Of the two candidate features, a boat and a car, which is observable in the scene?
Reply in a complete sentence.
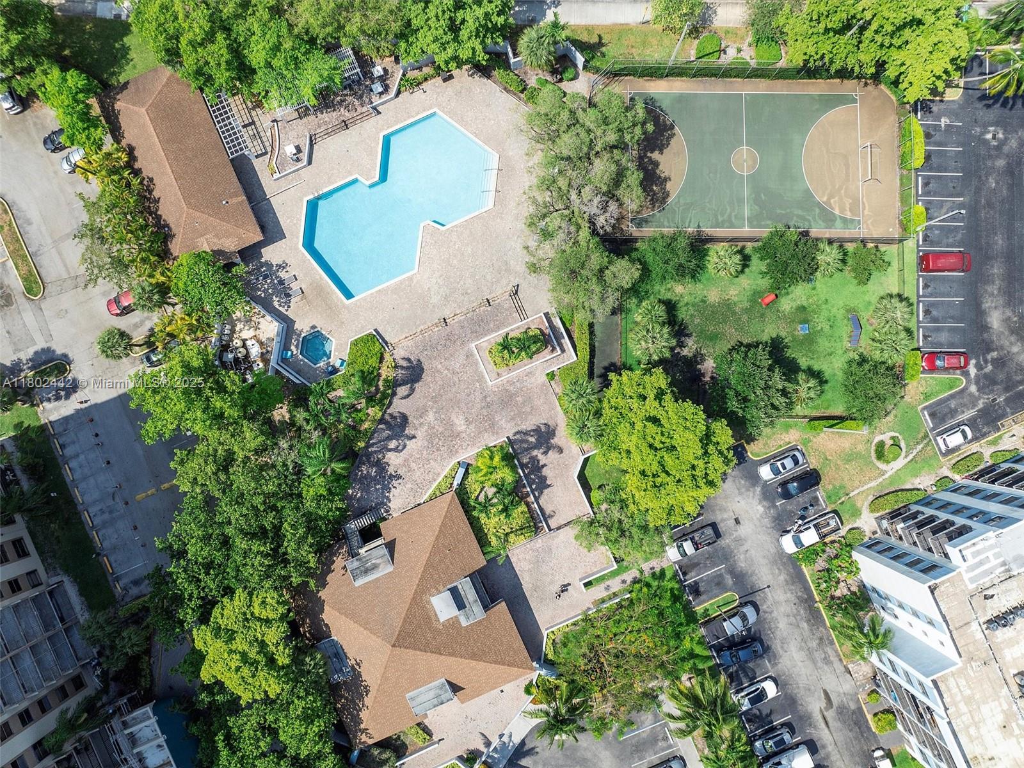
Of the two, only a car appears.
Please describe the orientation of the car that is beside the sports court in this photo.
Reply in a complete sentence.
The car that is beside the sports court runs from side to side in the image.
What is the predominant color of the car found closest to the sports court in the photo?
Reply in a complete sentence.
The car found closest to the sports court looks red in the image.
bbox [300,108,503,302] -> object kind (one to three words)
swimming pool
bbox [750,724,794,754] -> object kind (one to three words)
car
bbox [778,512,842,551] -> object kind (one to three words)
truck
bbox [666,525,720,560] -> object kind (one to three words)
truck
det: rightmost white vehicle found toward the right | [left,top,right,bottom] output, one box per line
[932,425,972,452]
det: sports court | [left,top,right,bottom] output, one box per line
[592,76,899,237]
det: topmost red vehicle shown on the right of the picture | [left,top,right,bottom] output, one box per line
[916,251,970,273]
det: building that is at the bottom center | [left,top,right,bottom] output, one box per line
[279,460,559,767]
